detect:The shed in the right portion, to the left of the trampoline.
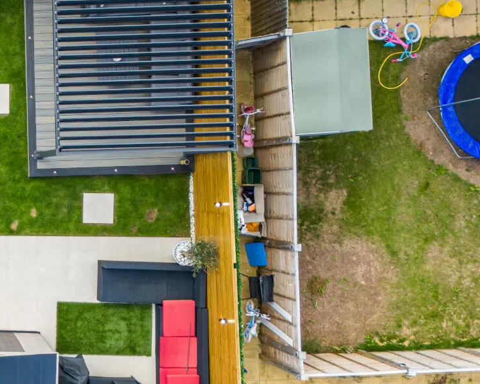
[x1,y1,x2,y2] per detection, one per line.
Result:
[291,28,373,137]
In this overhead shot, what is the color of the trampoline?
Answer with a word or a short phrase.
blue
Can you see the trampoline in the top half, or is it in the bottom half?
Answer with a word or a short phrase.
top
